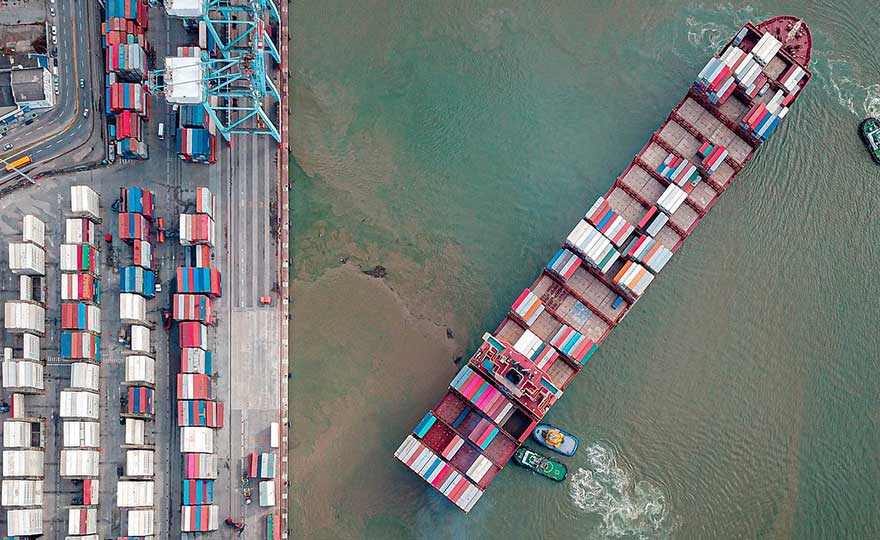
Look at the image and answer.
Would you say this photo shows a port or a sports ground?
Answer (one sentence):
The picture captures a port.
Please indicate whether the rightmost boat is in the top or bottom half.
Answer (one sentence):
The rightmost boat sits in the top half of the picture.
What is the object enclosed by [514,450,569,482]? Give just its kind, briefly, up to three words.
boat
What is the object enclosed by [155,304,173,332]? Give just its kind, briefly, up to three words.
work vehicle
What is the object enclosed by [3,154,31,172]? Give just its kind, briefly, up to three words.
vehicle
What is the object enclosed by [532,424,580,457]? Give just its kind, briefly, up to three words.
boat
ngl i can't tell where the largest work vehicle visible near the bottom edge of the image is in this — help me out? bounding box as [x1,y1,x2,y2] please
[224,519,248,539]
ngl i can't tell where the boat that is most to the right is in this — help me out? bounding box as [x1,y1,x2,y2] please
[859,116,880,165]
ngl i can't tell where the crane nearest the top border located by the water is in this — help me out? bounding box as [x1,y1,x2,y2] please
[150,0,285,73]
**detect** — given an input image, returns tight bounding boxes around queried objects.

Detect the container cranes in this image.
[150,9,290,150]
[150,0,285,73]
